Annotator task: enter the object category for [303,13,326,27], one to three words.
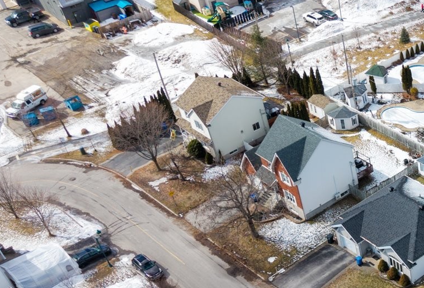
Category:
car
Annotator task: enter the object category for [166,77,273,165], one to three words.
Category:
house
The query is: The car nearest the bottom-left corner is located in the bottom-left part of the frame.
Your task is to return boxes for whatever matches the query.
[78,240,117,266]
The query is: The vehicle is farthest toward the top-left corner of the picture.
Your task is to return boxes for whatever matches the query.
[6,9,43,26]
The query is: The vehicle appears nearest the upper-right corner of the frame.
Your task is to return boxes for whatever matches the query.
[317,9,340,22]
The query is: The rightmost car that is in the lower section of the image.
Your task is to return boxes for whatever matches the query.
[127,253,167,282]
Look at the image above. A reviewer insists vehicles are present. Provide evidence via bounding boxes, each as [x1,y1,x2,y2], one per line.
[127,253,167,282]
[317,9,340,22]
[78,240,117,266]
[6,9,43,26]
[4,80,46,115]
[27,22,61,38]
[303,13,326,27]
